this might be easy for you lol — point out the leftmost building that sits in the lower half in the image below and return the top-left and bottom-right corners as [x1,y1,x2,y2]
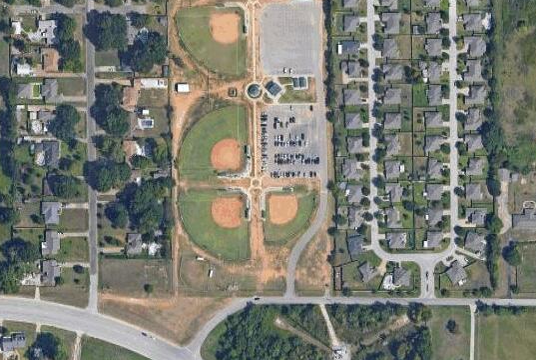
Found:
[2,335,22,350]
